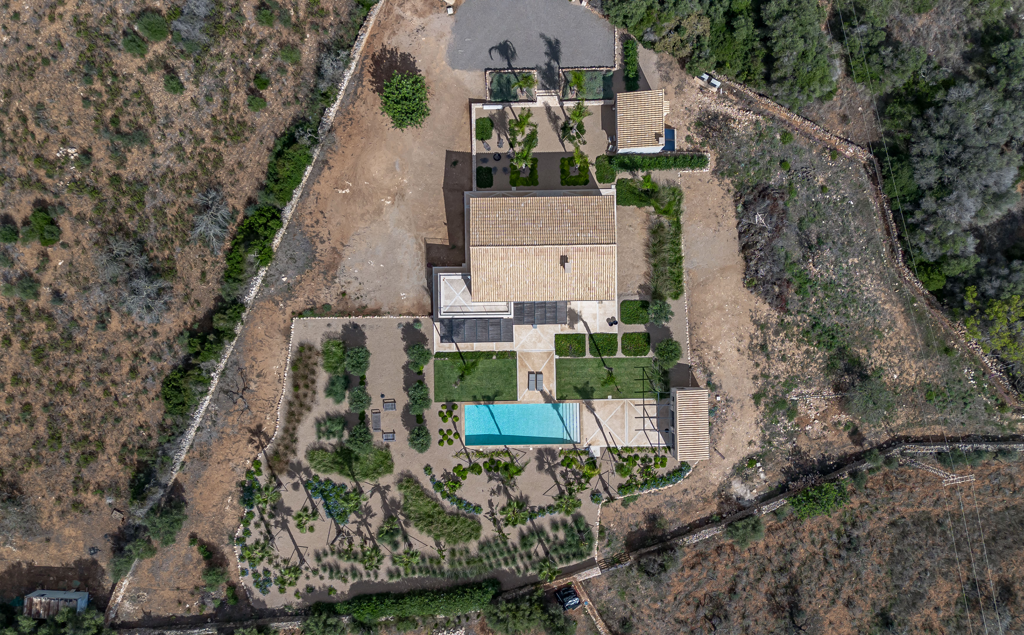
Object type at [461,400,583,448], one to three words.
swimming pool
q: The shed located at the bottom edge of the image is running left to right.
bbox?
[23,590,91,618]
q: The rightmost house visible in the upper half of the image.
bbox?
[615,88,672,152]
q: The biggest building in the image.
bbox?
[439,195,617,318]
